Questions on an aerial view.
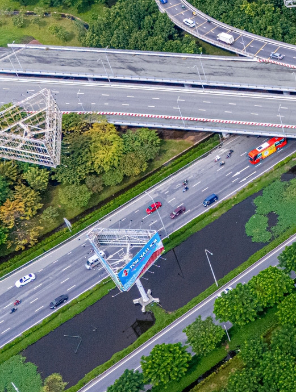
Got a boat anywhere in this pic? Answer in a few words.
No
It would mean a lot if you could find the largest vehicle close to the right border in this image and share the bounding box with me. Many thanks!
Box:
[246,136,289,167]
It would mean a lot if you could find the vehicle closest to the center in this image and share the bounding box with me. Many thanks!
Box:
[145,200,164,214]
